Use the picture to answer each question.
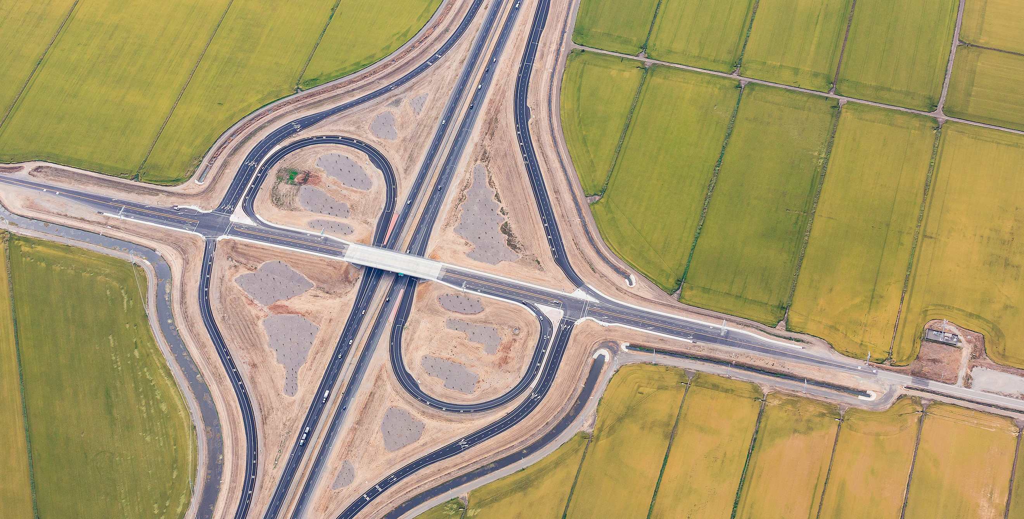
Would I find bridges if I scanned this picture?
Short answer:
Yes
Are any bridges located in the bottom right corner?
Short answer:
No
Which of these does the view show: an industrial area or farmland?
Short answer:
farmland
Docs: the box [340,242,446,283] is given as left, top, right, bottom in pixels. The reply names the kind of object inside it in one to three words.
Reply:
bridge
